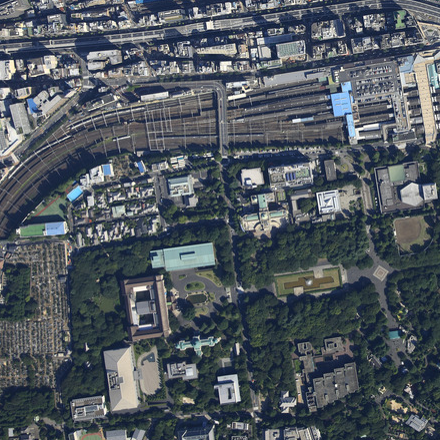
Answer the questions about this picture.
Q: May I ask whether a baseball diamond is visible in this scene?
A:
Yes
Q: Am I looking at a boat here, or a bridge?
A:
bridge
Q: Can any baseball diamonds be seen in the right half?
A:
Yes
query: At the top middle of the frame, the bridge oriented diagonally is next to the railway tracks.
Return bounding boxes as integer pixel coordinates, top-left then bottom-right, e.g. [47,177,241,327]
[130,78,229,154]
